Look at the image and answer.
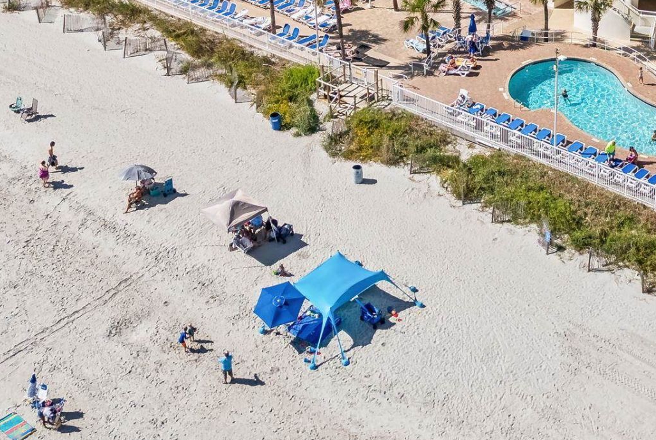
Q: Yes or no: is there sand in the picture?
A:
Yes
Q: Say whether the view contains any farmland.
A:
No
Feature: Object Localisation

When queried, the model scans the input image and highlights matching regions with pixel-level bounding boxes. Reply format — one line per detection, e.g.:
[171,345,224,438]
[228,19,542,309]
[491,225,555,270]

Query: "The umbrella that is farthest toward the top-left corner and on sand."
[116,170,155,193]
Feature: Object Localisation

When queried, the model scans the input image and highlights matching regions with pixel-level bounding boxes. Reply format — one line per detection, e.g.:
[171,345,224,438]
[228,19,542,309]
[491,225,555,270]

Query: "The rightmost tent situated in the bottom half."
[288,252,423,367]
